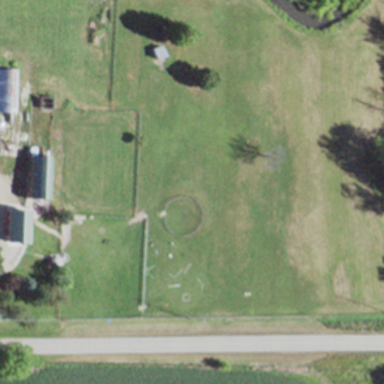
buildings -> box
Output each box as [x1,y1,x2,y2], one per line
[0,67,21,114]
[29,150,52,200]
[8,206,32,244]
[40,96,54,108]
[151,45,170,60]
